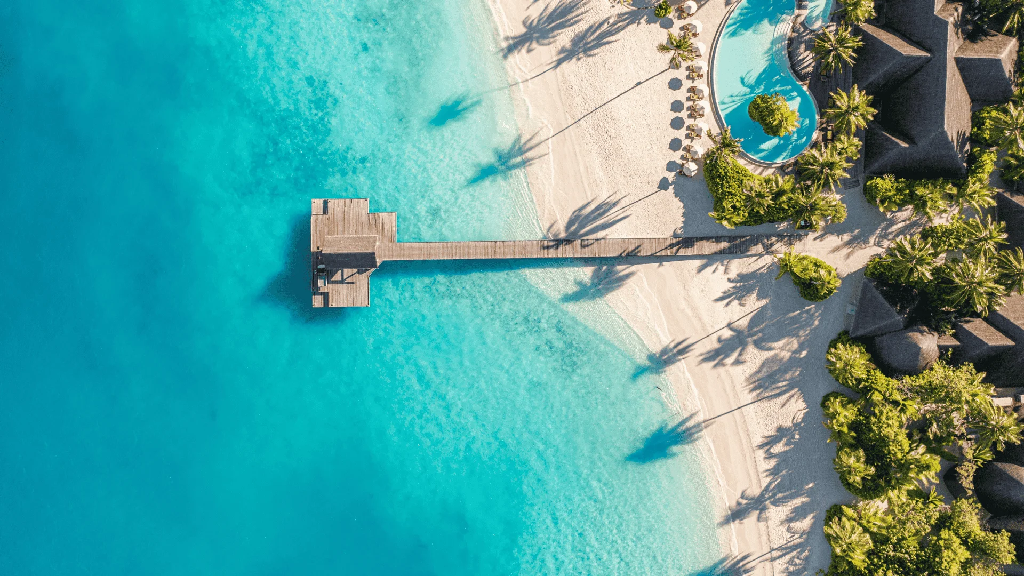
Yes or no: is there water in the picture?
Yes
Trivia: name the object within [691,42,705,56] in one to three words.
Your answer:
umbrella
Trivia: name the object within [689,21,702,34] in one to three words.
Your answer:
umbrella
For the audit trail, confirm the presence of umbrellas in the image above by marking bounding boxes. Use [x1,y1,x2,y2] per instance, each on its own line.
[694,61,707,75]
[689,145,703,159]
[683,163,696,177]
[694,123,707,136]
[683,1,697,15]
[689,21,702,34]
[695,84,709,98]
[696,101,709,115]
[691,42,705,56]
